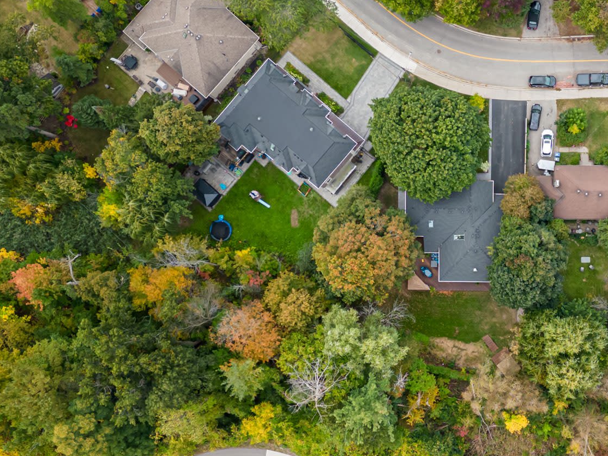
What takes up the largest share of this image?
trees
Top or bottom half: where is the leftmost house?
top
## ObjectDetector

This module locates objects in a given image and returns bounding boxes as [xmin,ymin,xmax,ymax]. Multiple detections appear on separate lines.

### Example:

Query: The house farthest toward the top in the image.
[124,0,264,100]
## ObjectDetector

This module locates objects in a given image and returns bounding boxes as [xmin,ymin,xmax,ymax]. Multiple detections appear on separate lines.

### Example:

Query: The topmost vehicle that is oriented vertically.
[527,0,542,31]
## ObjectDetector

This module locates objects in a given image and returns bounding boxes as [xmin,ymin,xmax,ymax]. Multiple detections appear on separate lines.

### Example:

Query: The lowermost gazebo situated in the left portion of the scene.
[192,179,226,208]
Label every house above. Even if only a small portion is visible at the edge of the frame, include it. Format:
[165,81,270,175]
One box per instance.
[537,165,608,220]
[406,178,505,282]
[124,0,264,100]
[214,58,366,195]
